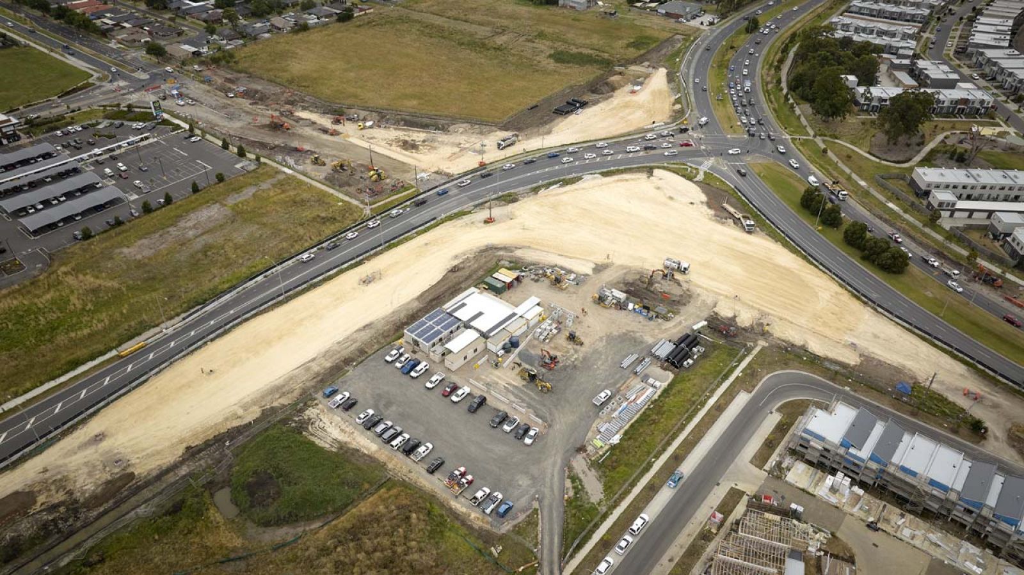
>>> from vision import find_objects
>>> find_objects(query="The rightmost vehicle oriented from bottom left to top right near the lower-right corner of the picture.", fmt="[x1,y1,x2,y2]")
[860,499,891,537]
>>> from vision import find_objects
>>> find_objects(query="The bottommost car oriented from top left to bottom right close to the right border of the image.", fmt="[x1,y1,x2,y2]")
[1001,312,1022,326]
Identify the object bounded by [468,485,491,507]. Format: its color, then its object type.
white truck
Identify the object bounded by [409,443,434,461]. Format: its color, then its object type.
white vehicle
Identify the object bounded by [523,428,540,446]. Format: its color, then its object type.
white car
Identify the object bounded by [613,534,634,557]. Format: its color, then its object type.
white car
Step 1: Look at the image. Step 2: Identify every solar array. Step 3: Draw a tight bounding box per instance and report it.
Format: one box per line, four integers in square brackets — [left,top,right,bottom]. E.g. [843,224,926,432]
[414,324,436,338]
[440,318,461,332]
[423,329,445,343]
[432,314,453,327]
[424,309,446,322]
